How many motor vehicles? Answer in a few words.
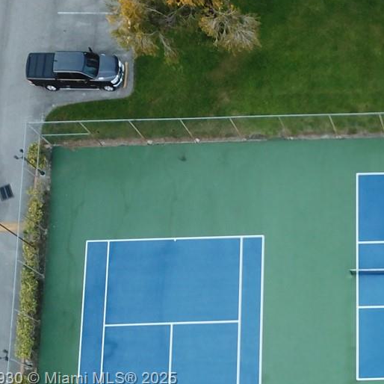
one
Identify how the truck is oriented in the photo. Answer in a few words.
horizontally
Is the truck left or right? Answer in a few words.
left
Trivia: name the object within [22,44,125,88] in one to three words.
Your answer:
truck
